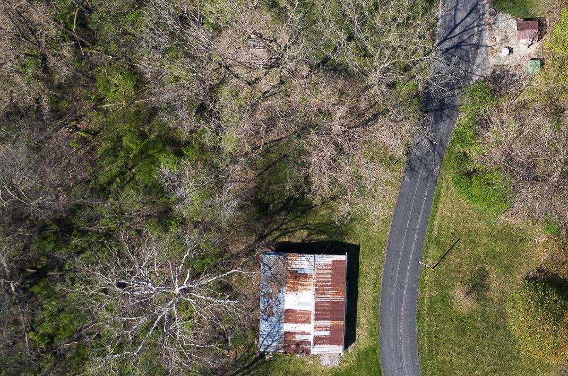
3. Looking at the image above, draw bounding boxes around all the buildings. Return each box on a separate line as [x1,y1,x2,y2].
[516,17,538,38]
[258,253,350,357]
